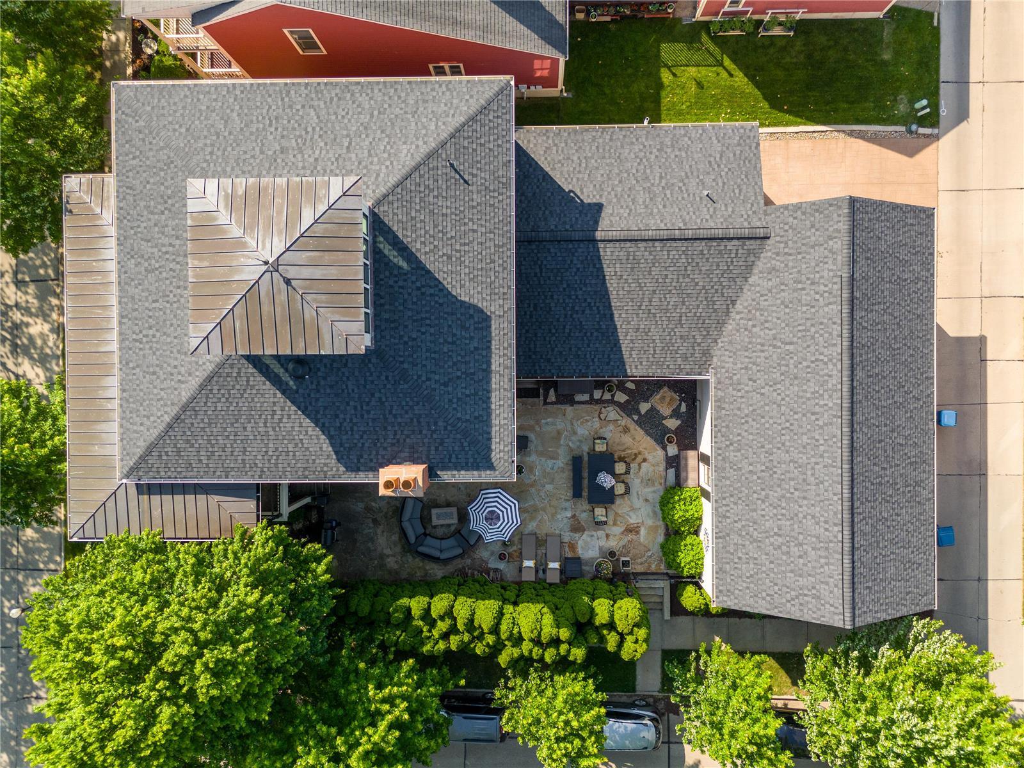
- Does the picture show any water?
No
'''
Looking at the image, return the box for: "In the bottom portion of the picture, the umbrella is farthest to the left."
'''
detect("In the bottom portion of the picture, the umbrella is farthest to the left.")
[463,486,522,543]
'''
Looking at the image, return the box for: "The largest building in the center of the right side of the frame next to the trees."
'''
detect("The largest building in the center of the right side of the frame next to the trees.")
[698,195,939,629]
